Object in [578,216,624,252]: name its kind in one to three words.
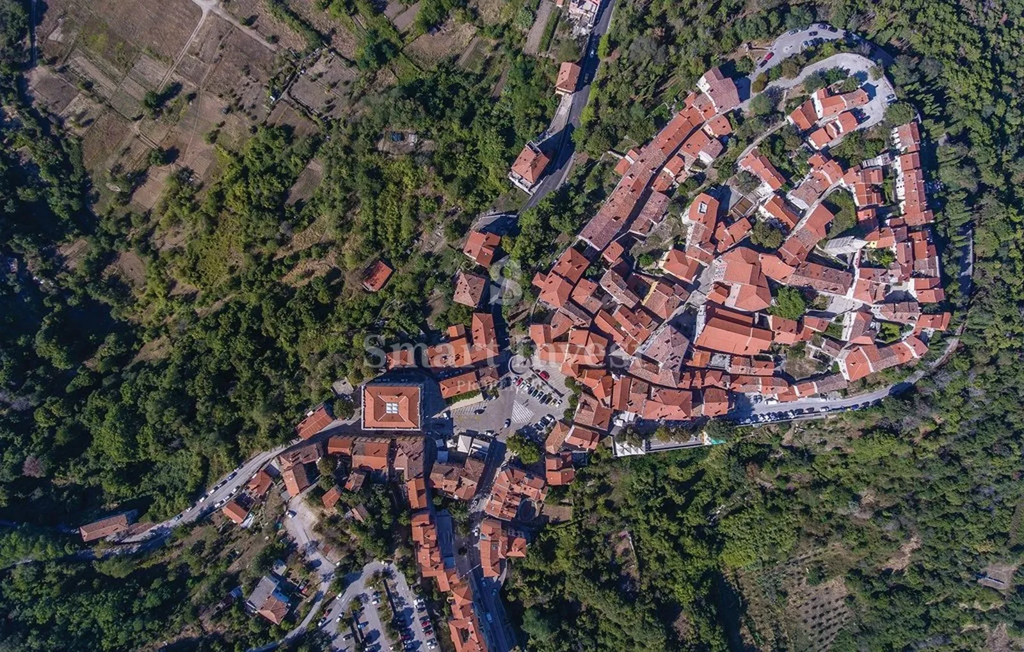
house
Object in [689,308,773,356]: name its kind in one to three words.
building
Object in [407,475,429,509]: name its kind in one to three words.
house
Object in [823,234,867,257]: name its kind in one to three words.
building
